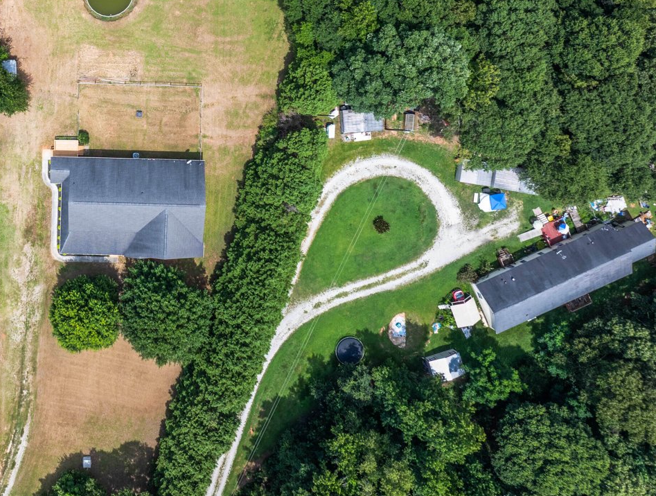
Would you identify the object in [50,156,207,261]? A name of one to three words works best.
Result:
house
